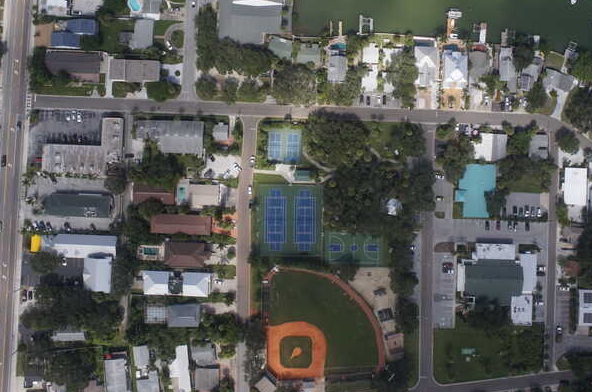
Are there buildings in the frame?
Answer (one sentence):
Yes, there's a building down there.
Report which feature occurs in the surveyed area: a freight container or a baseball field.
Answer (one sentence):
I can see a baseball field in this picture.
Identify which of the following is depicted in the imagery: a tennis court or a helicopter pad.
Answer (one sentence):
This aerial view contains a tennis court.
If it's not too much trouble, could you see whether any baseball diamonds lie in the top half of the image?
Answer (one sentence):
No, looking in the top half of the image, there is no baseball diamond.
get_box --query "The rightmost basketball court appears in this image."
[325,232,390,267]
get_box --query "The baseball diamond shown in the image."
[267,267,384,380]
